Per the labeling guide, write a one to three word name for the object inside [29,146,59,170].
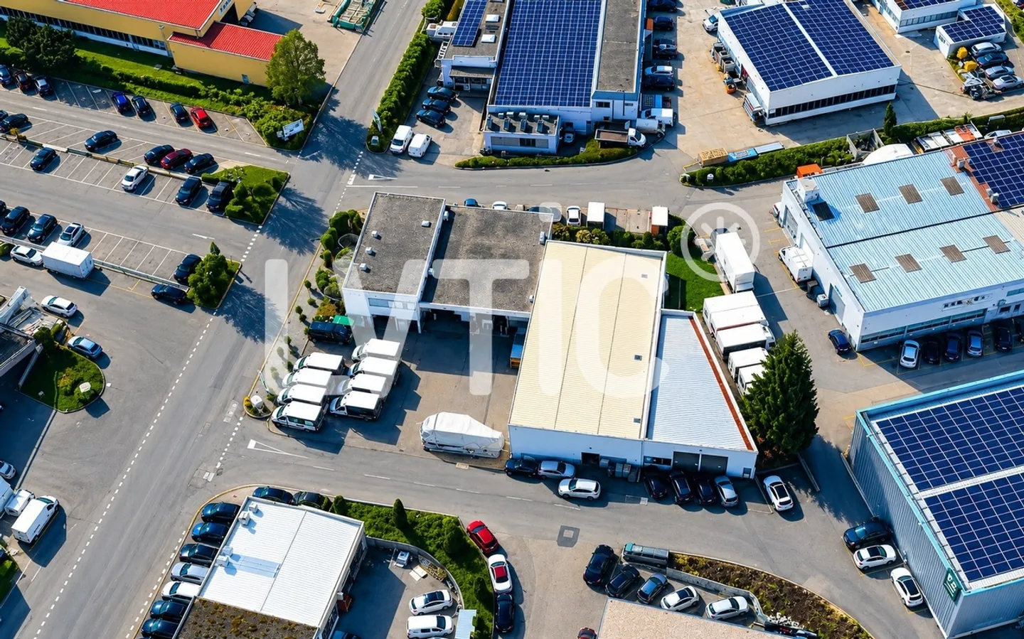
car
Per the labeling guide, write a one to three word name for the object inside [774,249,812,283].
truck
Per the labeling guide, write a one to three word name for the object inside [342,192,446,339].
building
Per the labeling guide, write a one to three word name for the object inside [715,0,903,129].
building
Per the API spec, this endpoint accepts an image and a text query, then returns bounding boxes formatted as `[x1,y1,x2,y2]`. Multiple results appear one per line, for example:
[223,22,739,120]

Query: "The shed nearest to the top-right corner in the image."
[933,4,1007,61]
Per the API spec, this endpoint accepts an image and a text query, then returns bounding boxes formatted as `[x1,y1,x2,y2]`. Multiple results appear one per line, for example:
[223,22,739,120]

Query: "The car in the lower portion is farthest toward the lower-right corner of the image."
[889,567,928,607]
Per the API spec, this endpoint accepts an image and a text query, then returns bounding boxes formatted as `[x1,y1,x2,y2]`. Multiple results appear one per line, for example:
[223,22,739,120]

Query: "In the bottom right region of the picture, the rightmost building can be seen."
[844,370,1024,635]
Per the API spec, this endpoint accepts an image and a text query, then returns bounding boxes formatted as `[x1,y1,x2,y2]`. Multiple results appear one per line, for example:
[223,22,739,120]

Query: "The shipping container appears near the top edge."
[328,0,379,28]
